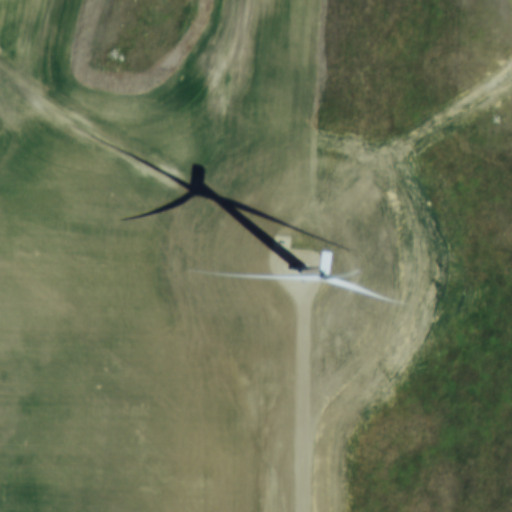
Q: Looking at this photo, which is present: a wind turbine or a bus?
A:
wind turbine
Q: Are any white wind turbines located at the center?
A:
Yes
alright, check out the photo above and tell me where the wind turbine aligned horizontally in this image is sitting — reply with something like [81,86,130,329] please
[199,250,408,304]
